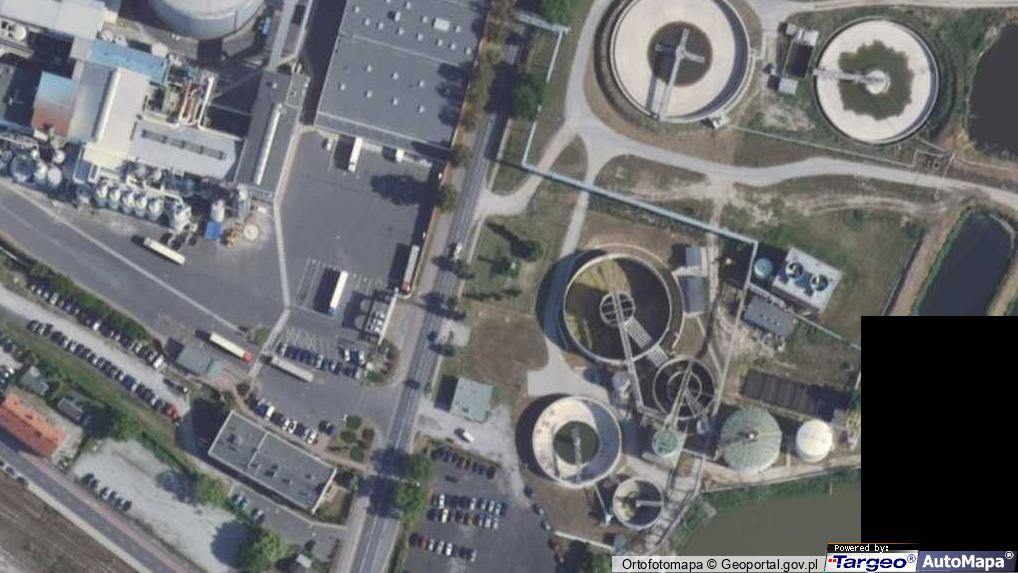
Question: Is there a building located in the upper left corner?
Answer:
Yes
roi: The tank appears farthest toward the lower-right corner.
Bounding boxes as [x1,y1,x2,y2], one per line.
[794,418,833,458]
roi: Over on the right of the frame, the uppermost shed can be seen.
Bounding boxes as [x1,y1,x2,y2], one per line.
[783,24,818,48]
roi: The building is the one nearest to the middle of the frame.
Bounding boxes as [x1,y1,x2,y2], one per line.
[450,378,492,424]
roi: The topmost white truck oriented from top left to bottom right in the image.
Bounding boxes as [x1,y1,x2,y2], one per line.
[143,237,186,266]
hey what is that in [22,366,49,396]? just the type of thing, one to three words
shed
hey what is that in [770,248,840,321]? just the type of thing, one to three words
cooling tower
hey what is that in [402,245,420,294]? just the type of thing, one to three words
vehicle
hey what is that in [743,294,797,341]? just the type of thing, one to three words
house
